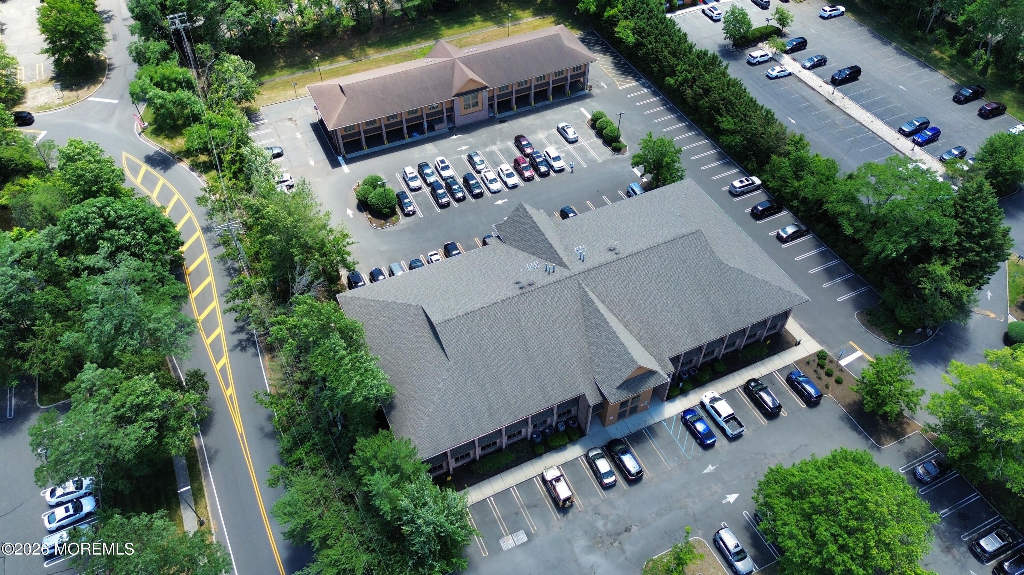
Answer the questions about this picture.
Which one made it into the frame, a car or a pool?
car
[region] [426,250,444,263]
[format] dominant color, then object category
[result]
white vehicle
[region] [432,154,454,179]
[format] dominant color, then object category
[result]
white car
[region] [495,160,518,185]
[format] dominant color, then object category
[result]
white car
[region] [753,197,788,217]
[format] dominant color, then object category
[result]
black car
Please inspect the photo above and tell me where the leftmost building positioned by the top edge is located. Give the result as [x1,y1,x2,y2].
[306,25,597,158]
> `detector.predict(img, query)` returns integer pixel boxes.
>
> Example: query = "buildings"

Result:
[341,178,811,481]
[306,25,597,158]
[662,0,700,8]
